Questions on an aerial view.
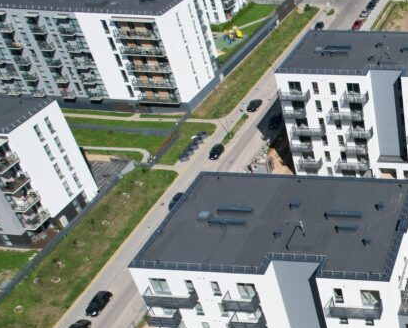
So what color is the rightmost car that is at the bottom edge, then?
black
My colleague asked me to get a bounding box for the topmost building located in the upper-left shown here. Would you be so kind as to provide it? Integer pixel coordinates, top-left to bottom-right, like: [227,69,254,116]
[0,0,219,102]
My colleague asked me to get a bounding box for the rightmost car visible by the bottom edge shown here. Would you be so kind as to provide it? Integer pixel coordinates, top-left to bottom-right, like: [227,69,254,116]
[80,291,114,317]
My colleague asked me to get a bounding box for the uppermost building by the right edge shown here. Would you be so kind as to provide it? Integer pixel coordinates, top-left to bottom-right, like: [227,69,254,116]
[275,26,408,180]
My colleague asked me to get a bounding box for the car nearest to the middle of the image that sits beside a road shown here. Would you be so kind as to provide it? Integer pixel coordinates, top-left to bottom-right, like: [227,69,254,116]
[207,145,225,158]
